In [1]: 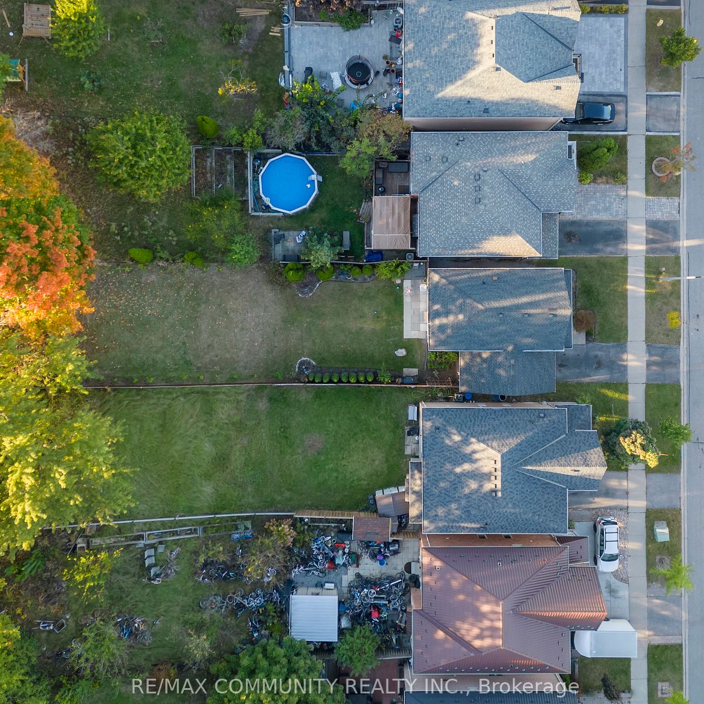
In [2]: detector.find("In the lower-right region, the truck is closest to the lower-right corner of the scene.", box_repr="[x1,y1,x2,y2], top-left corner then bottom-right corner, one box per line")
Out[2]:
[571,617,637,657]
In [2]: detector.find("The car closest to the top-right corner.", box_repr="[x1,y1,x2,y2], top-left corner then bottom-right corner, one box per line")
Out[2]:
[560,100,617,127]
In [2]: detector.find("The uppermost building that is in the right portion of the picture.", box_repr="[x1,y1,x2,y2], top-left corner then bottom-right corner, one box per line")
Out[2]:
[403,0,582,131]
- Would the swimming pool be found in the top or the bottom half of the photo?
top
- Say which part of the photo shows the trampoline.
top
